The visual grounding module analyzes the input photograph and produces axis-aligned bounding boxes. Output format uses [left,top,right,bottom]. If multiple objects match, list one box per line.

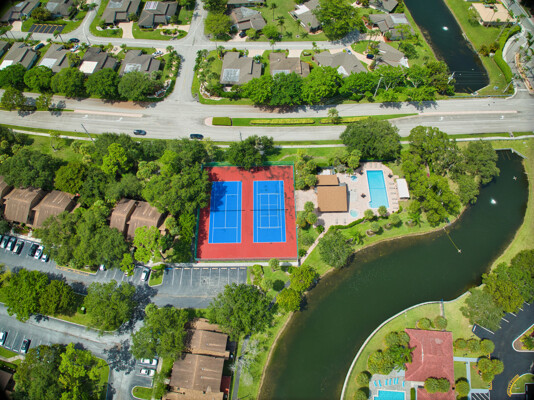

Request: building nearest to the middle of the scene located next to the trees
[316,175,348,214]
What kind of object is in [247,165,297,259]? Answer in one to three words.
tennis court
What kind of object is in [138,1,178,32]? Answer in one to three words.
house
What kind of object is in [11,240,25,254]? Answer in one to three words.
vehicle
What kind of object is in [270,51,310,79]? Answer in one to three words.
house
